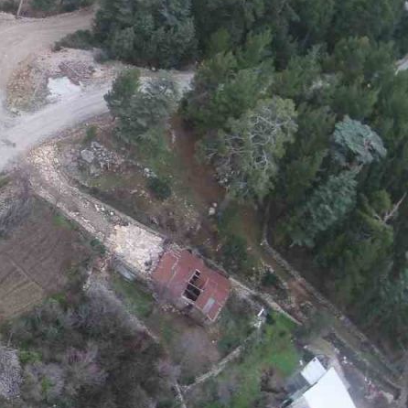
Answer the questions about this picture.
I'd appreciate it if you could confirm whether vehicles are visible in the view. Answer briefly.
No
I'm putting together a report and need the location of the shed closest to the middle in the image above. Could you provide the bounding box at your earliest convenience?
[145,246,231,334]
